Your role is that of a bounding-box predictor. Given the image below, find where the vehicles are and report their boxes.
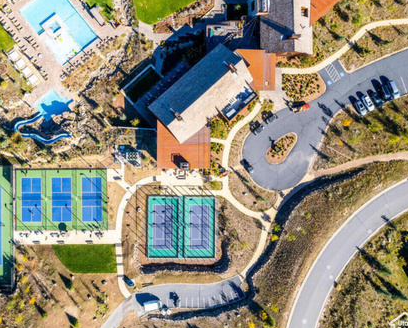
[386,79,401,96]
[252,121,267,134]
[292,102,312,112]
[371,90,382,106]
[161,307,167,316]
[144,298,162,311]
[379,84,392,101]
[264,112,279,124]
[362,94,374,111]
[166,306,172,316]
[354,99,366,116]
[124,274,136,289]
